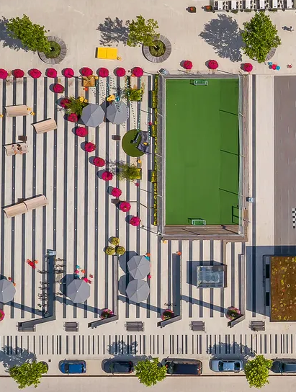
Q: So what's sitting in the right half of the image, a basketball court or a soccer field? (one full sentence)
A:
What appears in the right half of the image is a soccer field.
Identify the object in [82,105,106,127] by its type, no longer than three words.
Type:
umbrella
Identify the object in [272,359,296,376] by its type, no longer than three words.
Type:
car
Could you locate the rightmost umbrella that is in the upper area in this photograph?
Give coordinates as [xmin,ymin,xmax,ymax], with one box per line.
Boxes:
[107,101,130,124]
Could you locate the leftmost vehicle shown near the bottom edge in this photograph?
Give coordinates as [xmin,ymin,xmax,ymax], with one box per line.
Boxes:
[59,361,87,376]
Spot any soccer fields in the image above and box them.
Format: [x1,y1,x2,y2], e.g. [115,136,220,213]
[153,69,248,240]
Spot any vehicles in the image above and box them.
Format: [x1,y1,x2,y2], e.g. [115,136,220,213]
[211,359,244,376]
[102,359,135,376]
[164,359,202,377]
[272,359,296,376]
[59,361,87,376]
